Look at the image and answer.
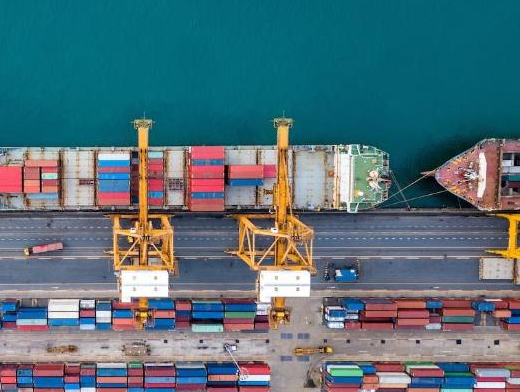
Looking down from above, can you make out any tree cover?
No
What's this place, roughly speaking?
port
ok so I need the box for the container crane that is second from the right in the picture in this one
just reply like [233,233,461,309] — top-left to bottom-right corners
[227,111,319,329]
